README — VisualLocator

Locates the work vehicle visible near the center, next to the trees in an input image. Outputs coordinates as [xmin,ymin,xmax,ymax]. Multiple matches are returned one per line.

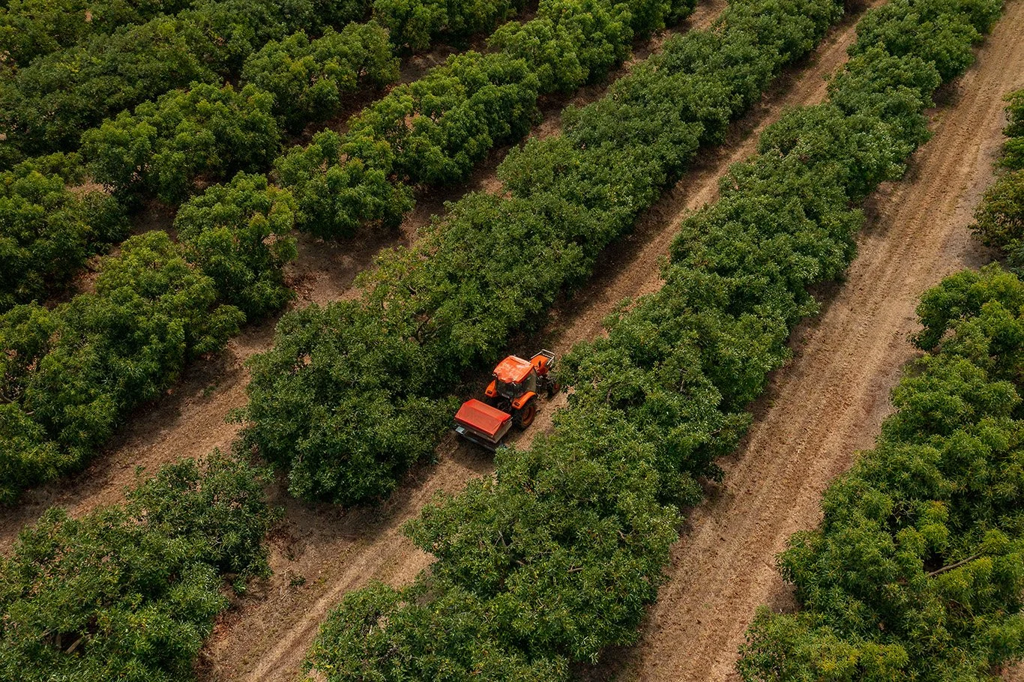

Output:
[481,348,556,432]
